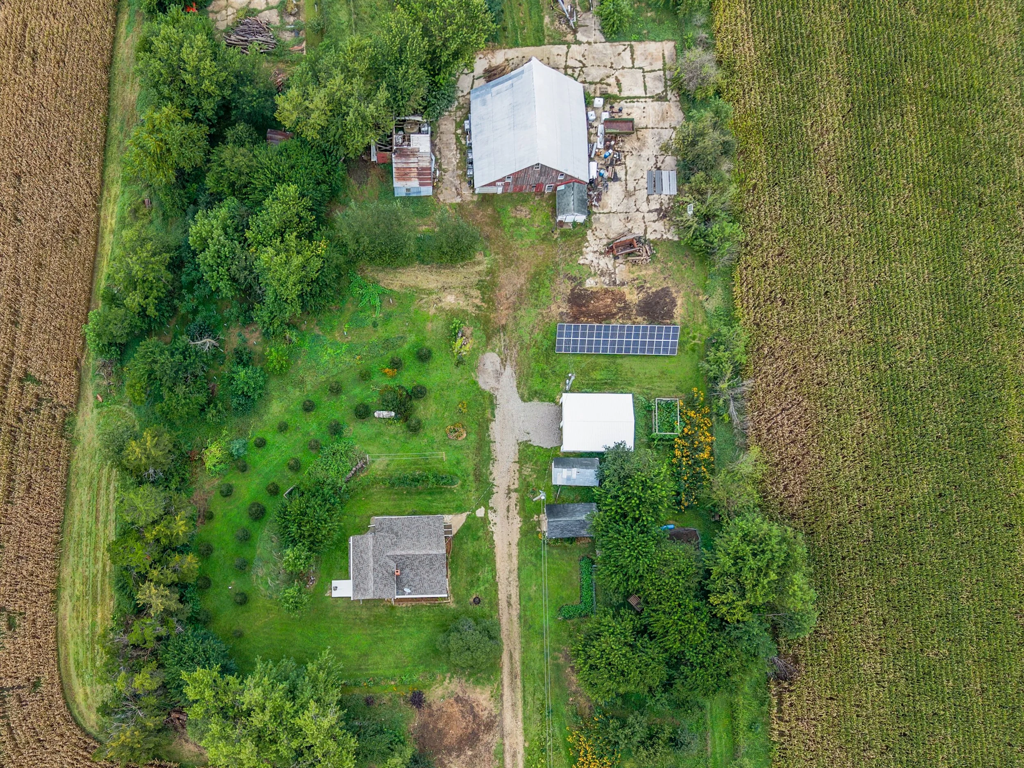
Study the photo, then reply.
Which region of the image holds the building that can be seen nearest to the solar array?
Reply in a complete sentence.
You can find the building that can be seen nearest to the solar array in the center area of the picture.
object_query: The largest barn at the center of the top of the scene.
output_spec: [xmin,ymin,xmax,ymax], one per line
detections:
[471,57,589,193]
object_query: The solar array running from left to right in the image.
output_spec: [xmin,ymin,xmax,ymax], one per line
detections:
[556,324,679,355]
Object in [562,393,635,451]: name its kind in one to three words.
building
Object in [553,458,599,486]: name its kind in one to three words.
shed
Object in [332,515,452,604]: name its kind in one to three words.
house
